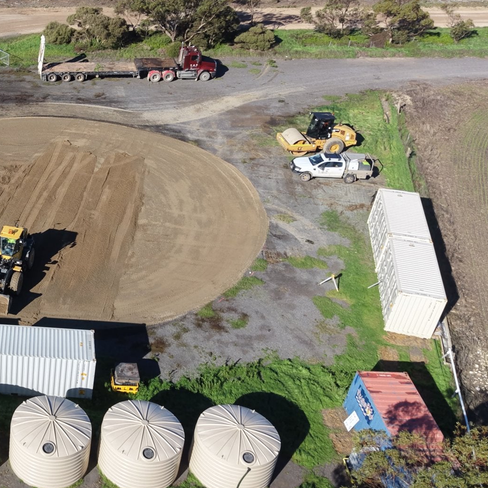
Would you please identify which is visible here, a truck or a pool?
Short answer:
truck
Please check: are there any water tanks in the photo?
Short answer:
Yes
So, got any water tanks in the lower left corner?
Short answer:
Yes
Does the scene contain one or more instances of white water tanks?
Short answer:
Yes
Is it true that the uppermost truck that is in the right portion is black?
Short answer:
No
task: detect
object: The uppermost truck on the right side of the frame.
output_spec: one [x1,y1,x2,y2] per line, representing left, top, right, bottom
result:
[289,150,375,183]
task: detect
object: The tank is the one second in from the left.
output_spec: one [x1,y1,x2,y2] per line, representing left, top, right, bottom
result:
[98,400,187,488]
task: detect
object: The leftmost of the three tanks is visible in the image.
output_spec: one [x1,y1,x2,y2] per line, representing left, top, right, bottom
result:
[9,394,93,488]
